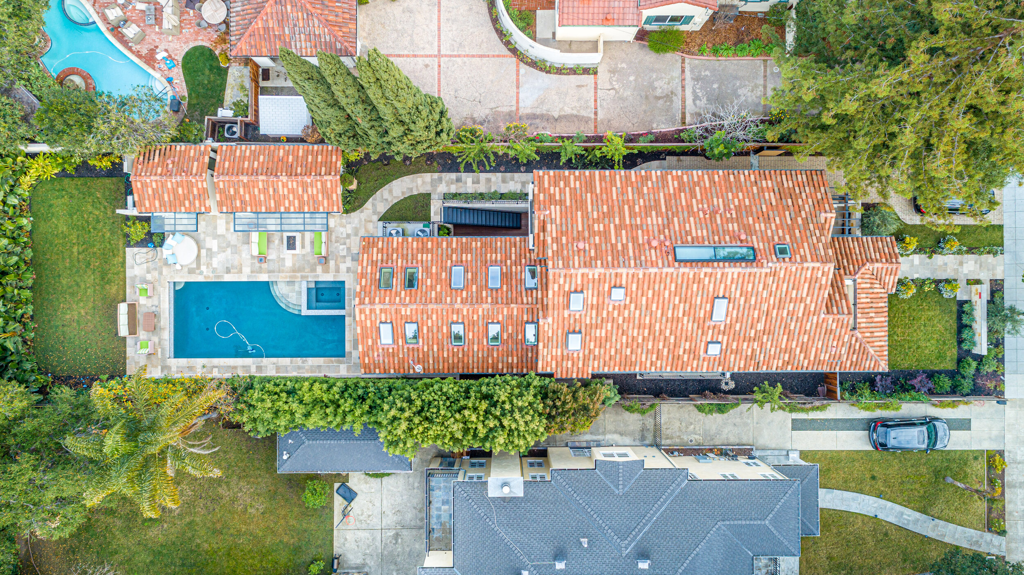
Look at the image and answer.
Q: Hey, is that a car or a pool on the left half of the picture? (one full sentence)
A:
What appears on the left half of the picture is a pool.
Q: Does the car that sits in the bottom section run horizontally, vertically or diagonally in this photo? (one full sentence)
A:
What the image shows is the car that sits in the bottom section lying horizontally.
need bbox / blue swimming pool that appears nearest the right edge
[164,275,351,365]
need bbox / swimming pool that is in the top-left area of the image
[38,0,172,123]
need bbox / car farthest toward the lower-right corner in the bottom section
[867,416,948,455]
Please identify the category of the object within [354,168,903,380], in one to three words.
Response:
house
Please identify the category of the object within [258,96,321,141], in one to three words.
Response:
shed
